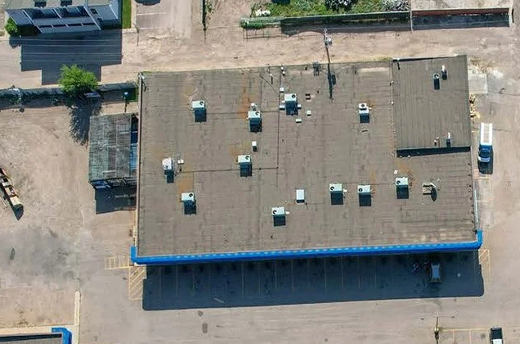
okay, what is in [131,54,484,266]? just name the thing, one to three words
building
